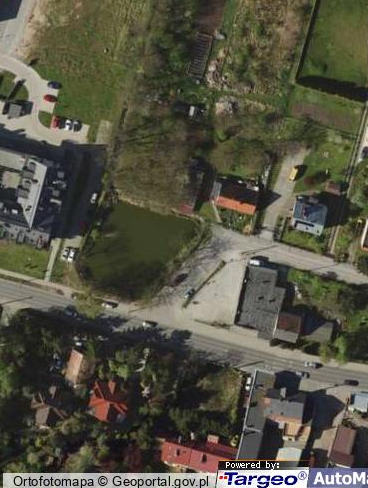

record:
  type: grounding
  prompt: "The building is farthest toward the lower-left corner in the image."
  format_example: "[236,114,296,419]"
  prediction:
[31,392,65,424]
